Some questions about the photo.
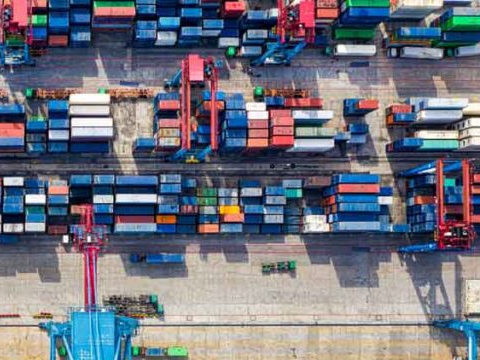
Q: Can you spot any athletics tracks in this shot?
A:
No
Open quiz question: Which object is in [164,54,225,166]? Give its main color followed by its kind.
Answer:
red crane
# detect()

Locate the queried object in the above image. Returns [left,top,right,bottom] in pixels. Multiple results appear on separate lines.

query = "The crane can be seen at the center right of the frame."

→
[398,157,479,258]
